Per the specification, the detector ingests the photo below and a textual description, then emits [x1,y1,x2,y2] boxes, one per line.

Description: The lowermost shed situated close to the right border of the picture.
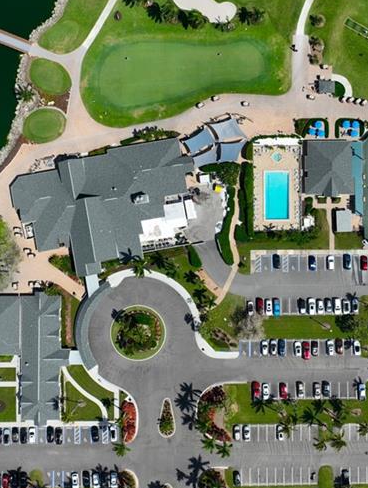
[336,210,352,232]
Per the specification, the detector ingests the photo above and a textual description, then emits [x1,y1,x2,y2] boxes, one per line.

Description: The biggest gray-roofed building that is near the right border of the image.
[305,141,354,196]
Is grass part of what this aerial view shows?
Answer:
Yes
